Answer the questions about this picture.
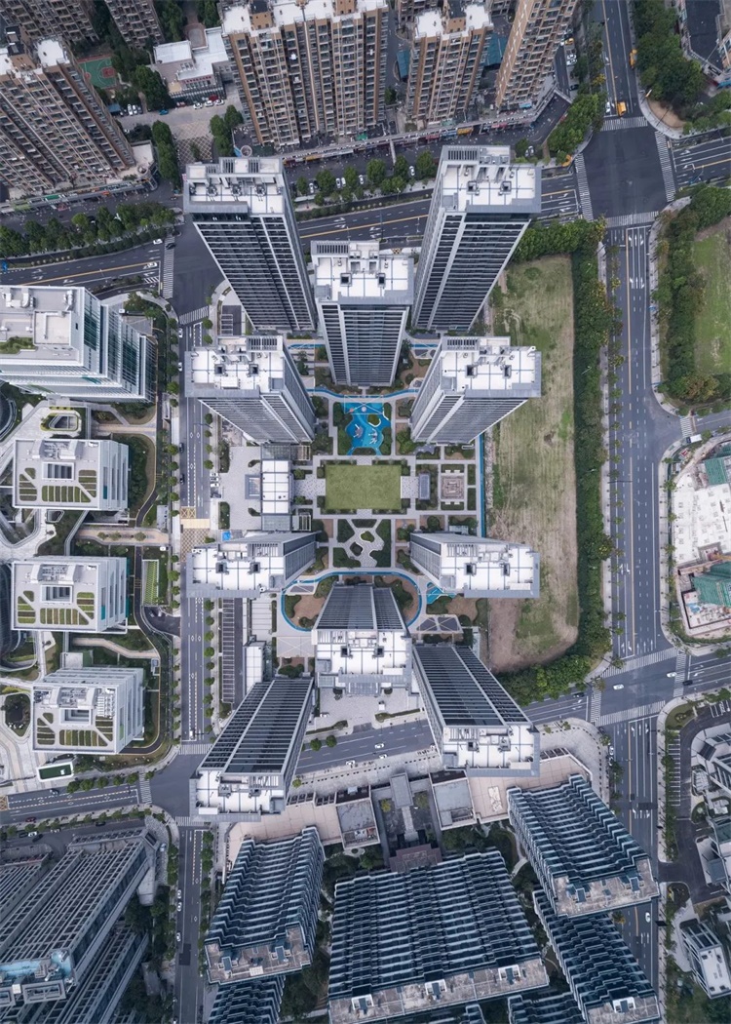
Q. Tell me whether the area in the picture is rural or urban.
urban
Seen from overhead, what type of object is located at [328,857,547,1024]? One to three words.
building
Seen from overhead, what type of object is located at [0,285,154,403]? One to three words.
building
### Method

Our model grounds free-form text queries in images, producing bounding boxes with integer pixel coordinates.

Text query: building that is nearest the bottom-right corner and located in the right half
[681,919,731,999]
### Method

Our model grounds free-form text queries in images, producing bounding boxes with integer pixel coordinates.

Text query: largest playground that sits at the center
[344,400,390,459]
